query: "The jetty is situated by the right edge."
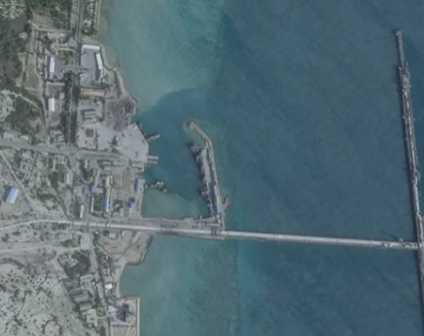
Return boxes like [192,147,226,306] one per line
[395,30,424,309]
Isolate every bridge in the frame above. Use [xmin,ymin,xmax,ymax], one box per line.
[141,225,415,249]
